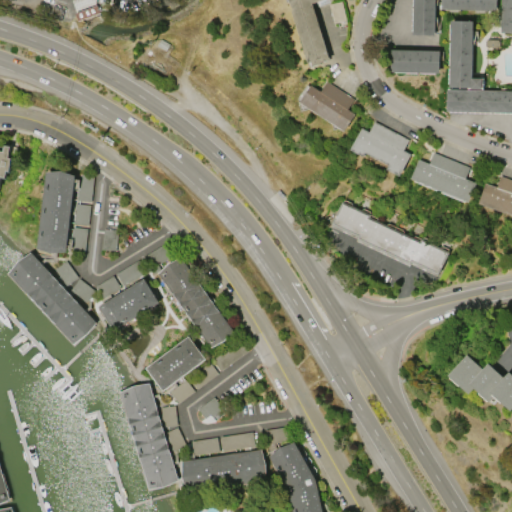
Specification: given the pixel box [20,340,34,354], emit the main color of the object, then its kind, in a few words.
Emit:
white boat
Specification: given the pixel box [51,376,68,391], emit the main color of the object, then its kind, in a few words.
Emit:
white boat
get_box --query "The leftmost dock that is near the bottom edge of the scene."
[6,390,46,512]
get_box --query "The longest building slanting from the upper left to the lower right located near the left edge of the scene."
[8,253,96,346]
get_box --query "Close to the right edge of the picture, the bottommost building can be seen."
[449,356,512,411]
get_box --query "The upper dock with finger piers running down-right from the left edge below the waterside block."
[0,298,72,389]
